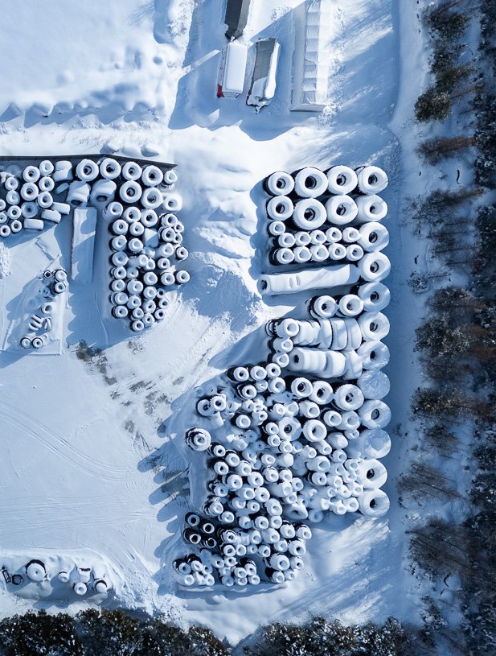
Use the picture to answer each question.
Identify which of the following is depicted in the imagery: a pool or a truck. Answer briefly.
truck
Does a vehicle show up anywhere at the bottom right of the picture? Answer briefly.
No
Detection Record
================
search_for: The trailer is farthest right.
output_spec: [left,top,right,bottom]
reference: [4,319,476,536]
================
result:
[291,0,331,110]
